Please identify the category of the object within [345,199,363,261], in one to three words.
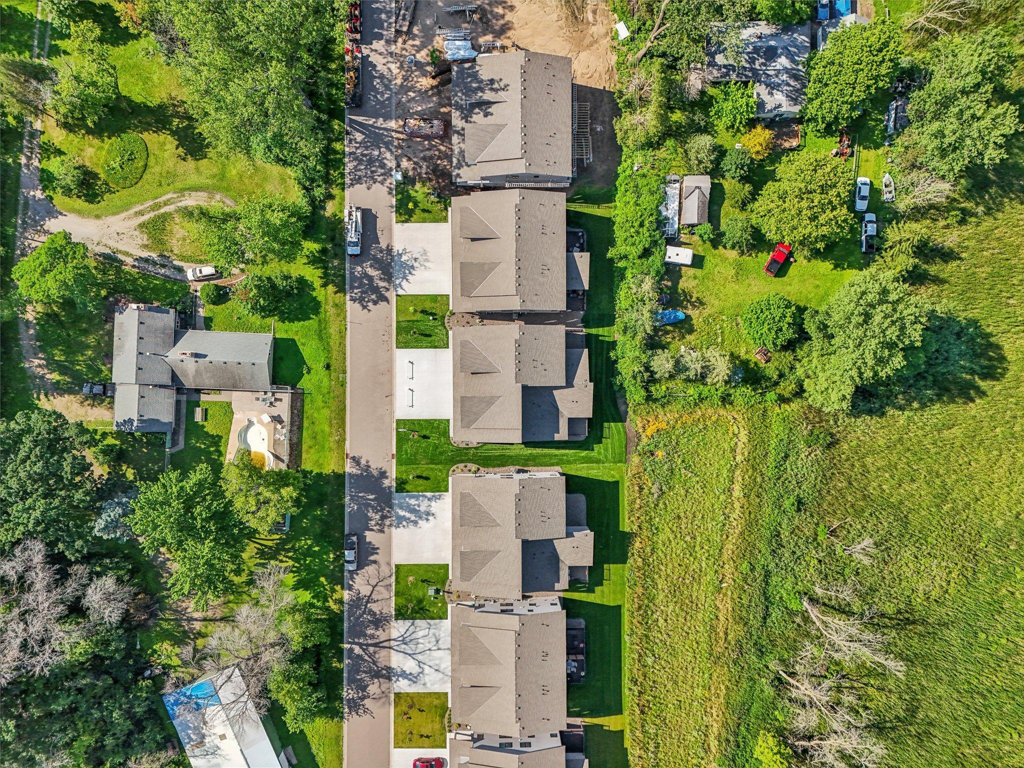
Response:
vehicle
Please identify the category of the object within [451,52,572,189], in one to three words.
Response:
house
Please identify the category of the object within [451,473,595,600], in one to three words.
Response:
house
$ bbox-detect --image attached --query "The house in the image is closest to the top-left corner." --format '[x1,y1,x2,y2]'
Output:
[113,304,278,432]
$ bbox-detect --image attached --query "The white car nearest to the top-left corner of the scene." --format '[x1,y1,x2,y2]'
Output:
[188,265,220,281]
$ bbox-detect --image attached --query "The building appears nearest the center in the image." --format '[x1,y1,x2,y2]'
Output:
[451,324,595,444]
